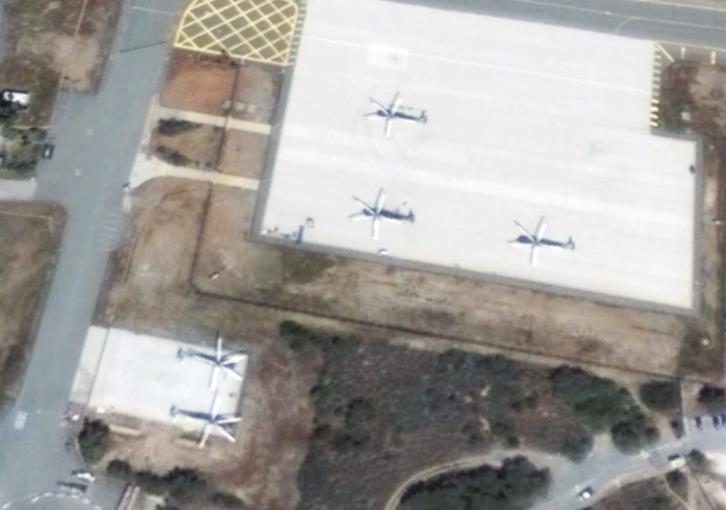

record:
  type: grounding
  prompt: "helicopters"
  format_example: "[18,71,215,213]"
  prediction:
[177,334,247,391]
[352,192,412,238]
[368,92,428,138]
[512,220,571,267]
[170,393,240,448]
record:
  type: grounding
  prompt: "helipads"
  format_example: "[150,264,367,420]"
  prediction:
[70,326,250,433]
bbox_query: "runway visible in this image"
[391,0,726,52]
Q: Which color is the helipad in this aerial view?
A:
white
